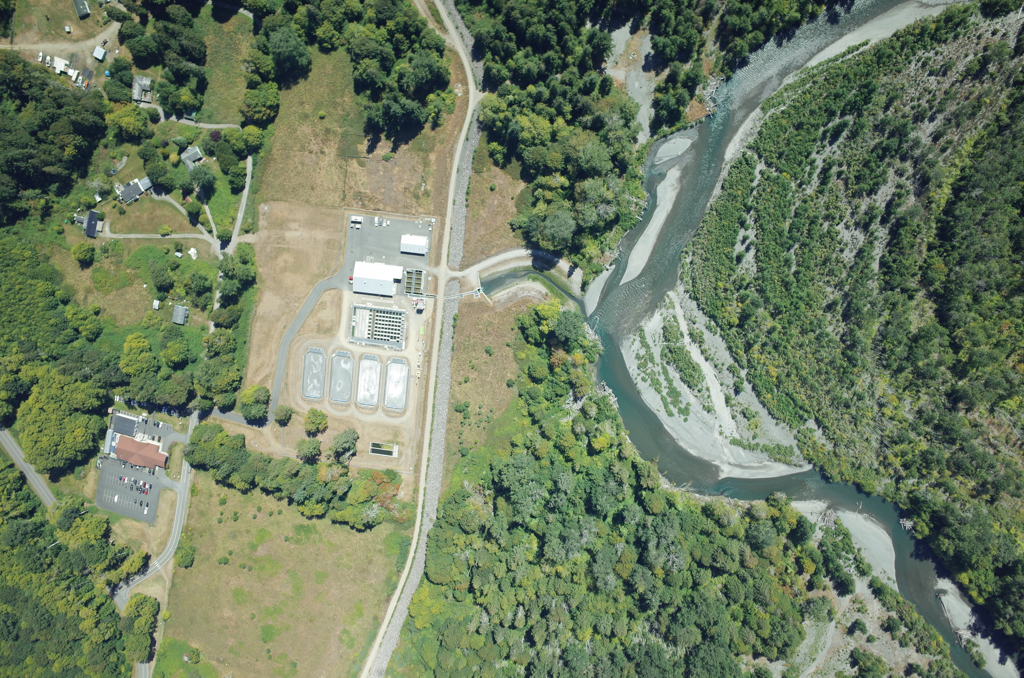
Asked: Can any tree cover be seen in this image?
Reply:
Yes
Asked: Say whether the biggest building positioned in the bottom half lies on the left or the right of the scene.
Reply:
left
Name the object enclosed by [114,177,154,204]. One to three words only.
house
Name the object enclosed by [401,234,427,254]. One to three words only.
shed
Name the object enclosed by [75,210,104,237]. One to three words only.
house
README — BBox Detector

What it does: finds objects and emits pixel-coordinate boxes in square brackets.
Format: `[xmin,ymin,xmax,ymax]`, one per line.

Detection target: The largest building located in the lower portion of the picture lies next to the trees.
[109,413,170,467]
